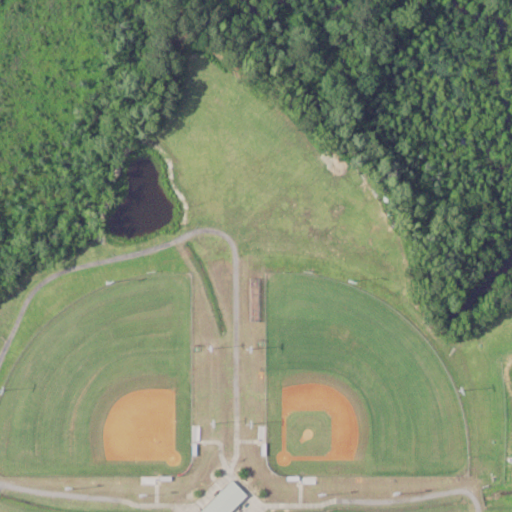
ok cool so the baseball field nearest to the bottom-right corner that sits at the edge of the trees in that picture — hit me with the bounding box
[266,272,470,476]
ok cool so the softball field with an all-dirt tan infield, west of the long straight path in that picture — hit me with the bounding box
[0,272,192,474]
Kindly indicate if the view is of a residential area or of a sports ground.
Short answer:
sports ground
